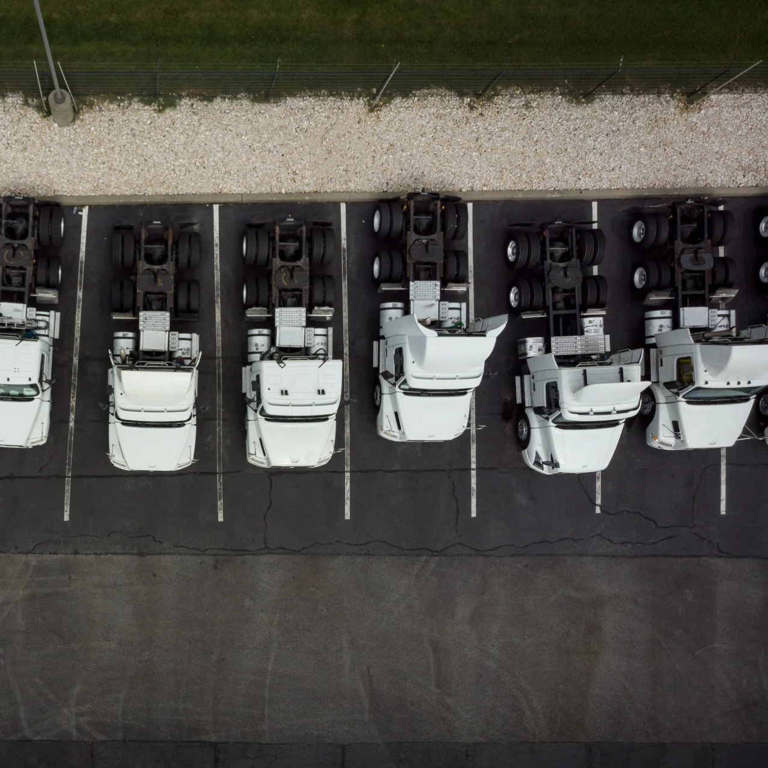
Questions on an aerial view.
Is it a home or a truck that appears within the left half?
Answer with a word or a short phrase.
truck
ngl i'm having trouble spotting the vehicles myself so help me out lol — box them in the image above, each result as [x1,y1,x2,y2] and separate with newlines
[0,191,65,450]
[97,216,210,474]
[373,186,506,446]
[630,195,768,453]
[242,213,356,471]
[504,217,649,477]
